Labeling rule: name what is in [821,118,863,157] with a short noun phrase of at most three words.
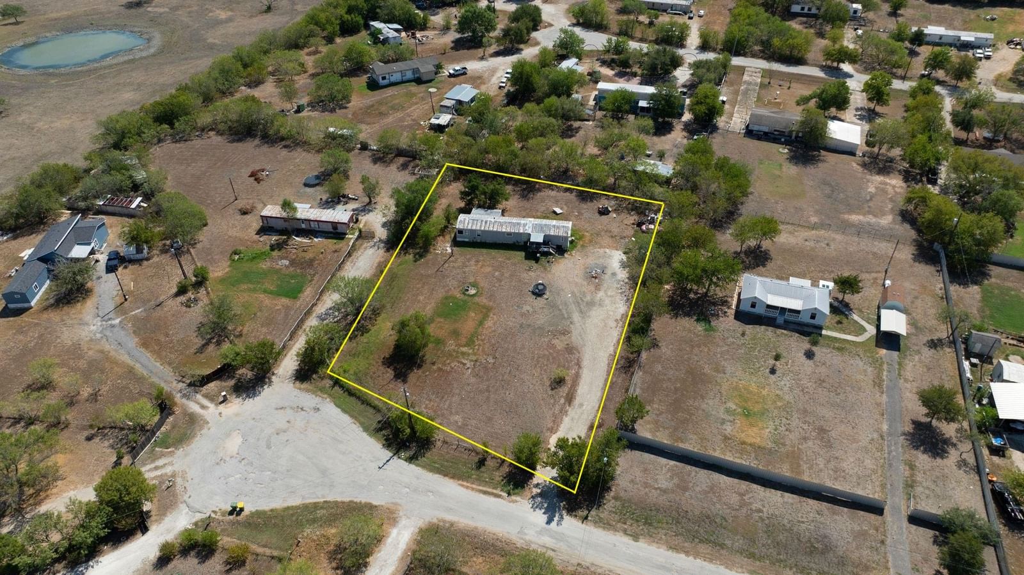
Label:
barn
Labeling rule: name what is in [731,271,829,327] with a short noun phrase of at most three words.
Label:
house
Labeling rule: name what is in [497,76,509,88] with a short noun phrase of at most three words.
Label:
vehicle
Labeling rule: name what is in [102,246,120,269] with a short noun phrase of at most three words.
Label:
vehicle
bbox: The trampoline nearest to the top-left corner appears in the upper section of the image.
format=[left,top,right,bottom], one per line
[302,174,322,189]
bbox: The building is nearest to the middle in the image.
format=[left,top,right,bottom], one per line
[456,206,576,256]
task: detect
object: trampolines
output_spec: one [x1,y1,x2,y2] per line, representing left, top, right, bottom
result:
[302,174,322,189]
[532,282,547,296]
